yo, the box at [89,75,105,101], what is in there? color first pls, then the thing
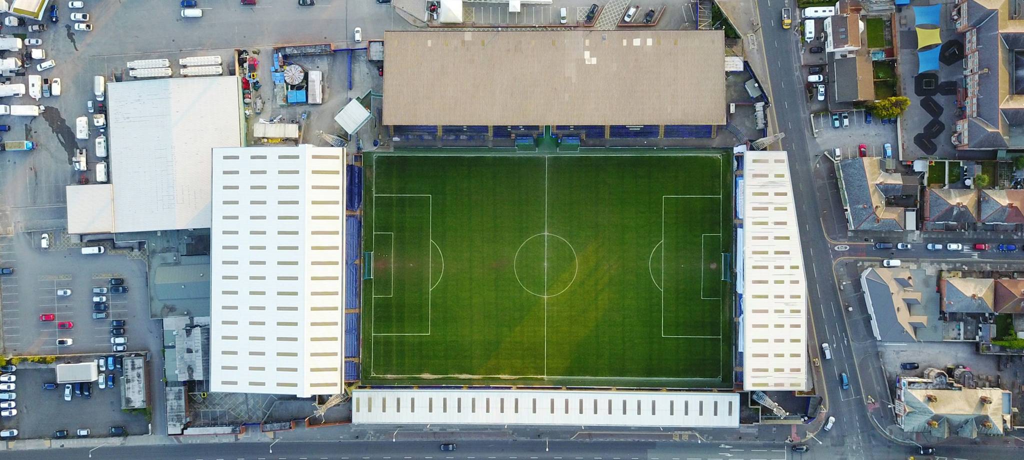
white vehicle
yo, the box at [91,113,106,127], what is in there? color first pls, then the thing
white camper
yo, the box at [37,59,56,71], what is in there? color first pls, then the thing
white vehicle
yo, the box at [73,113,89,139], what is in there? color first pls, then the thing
white camper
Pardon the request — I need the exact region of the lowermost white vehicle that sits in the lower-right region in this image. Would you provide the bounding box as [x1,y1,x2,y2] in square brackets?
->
[823,415,836,432]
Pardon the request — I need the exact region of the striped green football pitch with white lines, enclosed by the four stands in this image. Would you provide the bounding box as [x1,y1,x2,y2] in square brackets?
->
[361,148,734,388]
